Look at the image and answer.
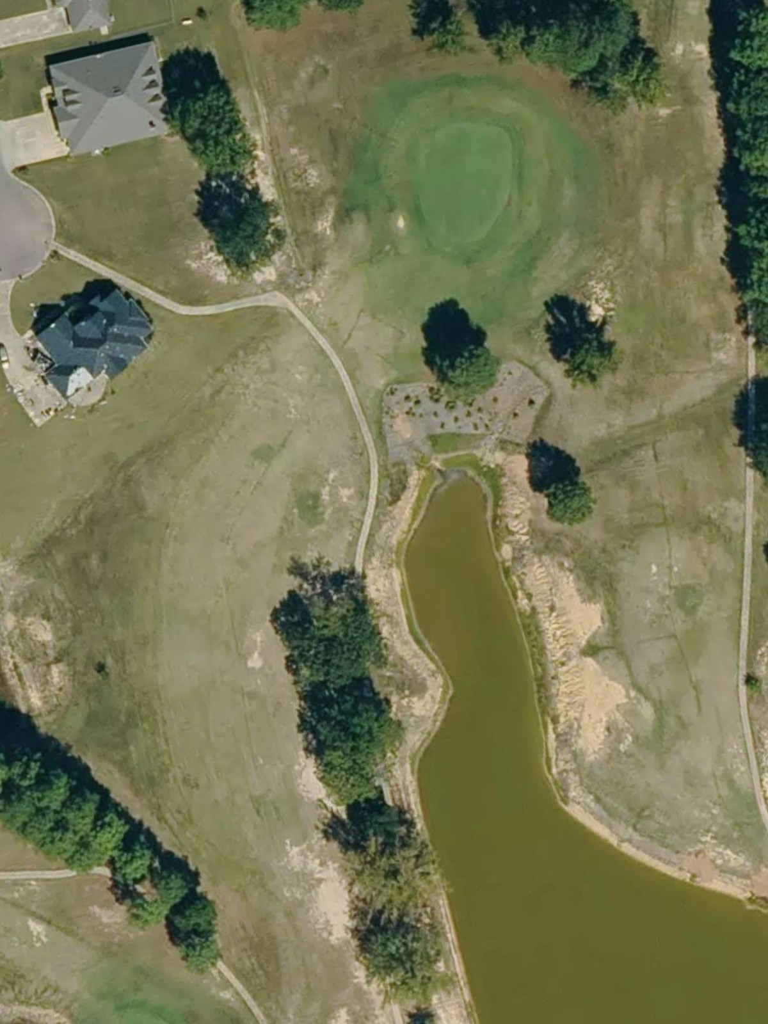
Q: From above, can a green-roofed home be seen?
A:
No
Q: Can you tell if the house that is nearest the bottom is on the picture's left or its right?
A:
left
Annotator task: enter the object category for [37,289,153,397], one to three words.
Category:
house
